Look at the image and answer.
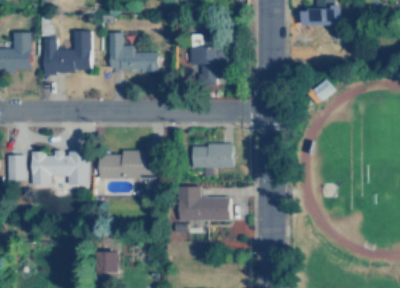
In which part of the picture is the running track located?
right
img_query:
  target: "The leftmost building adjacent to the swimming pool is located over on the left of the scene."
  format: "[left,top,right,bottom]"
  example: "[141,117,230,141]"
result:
[30,150,92,186]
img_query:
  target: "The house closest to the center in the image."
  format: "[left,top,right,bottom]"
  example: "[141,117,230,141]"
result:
[192,143,236,168]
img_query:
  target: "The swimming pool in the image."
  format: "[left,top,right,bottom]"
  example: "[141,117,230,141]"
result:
[94,178,136,196]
